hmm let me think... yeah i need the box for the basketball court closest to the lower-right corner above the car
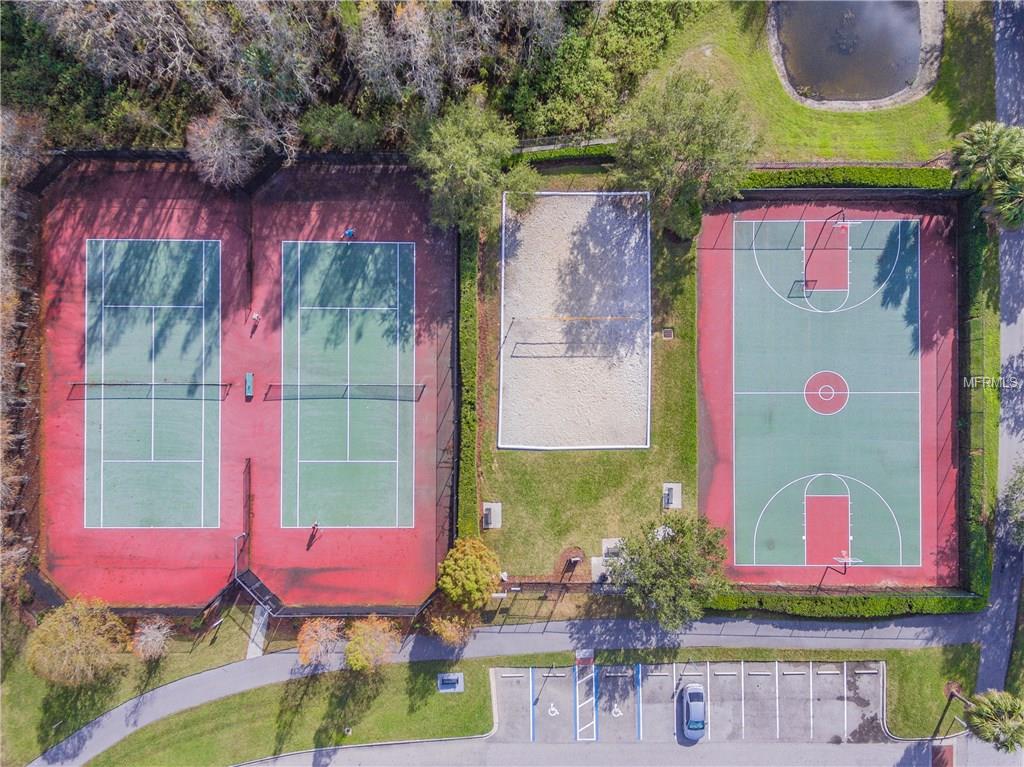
[697,202,958,587]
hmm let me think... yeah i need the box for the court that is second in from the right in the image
[497,191,651,449]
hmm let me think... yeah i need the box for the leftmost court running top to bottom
[40,160,249,605]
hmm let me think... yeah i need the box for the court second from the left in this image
[249,160,453,605]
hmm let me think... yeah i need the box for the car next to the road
[681,683,709,739]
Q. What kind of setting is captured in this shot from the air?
sports ground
